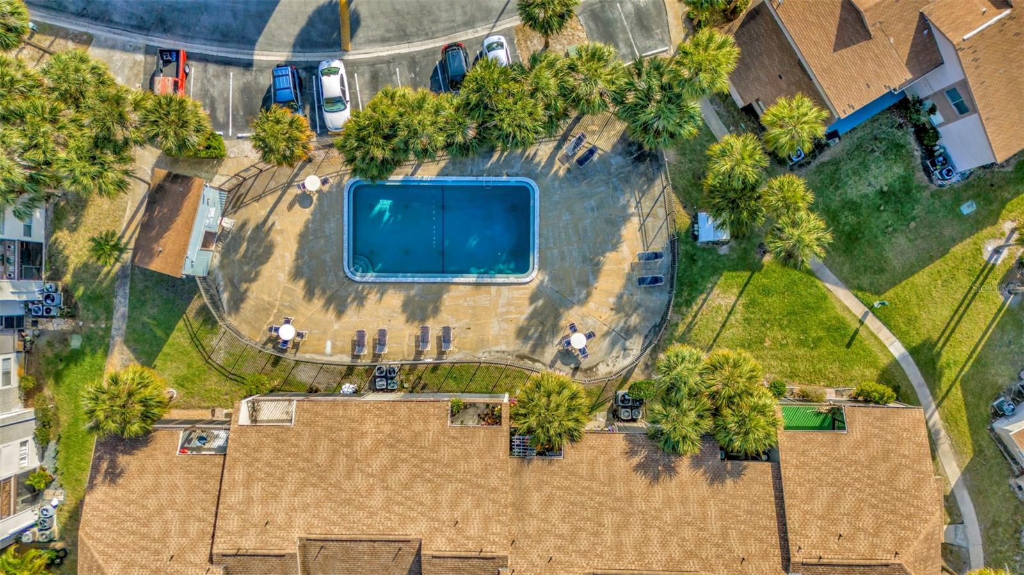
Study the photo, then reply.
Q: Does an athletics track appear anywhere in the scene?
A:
No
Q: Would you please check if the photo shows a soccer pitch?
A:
No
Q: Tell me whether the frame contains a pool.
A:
Yes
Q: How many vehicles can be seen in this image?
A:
5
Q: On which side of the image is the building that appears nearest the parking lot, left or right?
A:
left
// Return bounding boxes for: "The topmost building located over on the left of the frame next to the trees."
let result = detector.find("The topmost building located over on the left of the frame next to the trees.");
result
[132,168,228,278]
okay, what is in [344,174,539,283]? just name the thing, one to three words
swimming pool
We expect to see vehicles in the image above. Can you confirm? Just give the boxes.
[150,42,186,124]
[267,53,301,118]
[484,25,516,88]
[314,55,347,130]
[439,33,470,84]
